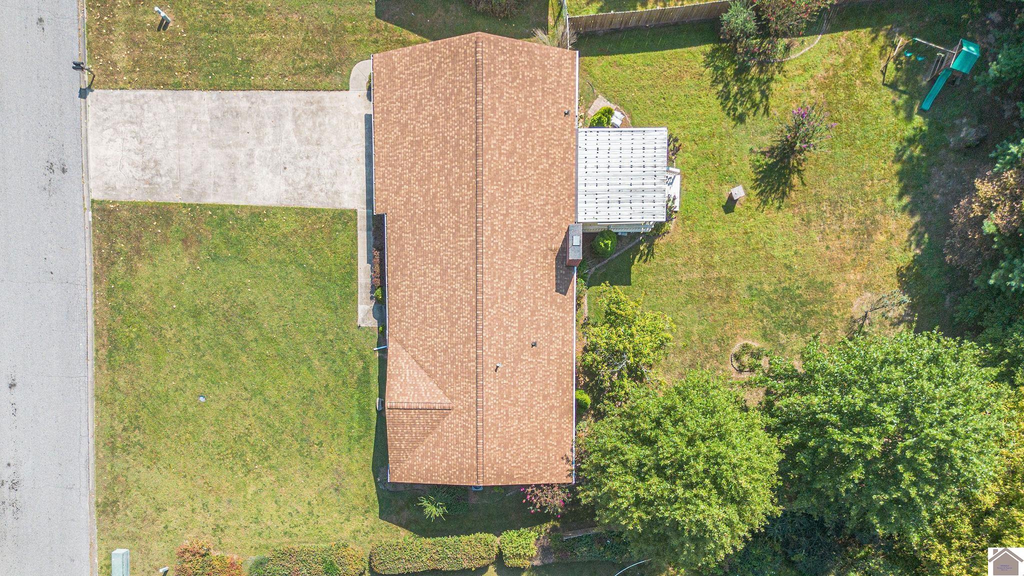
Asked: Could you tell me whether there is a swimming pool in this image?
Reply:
No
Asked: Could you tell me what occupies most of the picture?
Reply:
grass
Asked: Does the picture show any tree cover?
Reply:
Yes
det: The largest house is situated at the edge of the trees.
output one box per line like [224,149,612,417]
[371,33,582,485]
